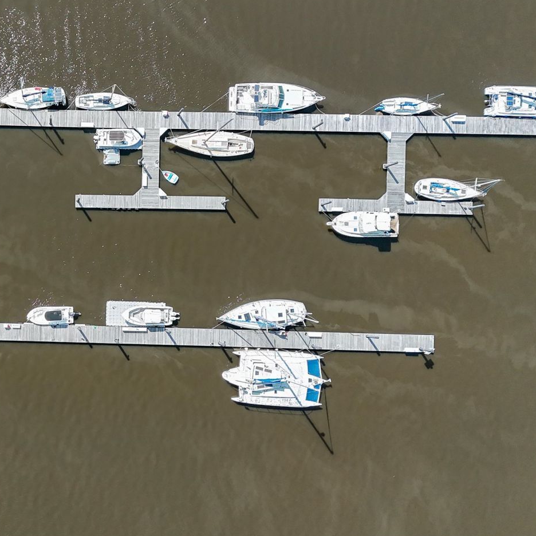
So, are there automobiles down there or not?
No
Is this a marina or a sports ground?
marina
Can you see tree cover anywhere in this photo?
No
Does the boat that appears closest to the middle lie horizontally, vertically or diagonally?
horizontally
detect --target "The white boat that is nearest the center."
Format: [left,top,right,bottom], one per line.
[217,299,321,331]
